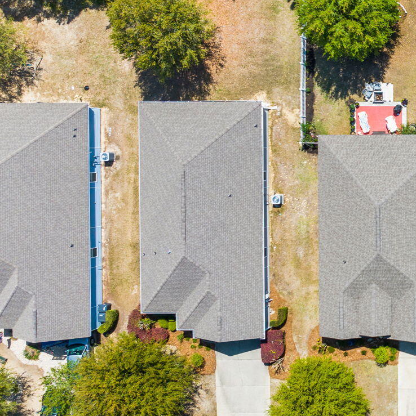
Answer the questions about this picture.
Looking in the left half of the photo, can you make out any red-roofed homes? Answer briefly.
No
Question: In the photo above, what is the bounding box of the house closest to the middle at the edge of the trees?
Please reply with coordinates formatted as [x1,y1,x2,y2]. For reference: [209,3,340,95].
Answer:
[139,100,269,342]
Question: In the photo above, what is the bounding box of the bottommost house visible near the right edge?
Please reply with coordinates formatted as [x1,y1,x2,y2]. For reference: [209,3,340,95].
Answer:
[319,135,416,343]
